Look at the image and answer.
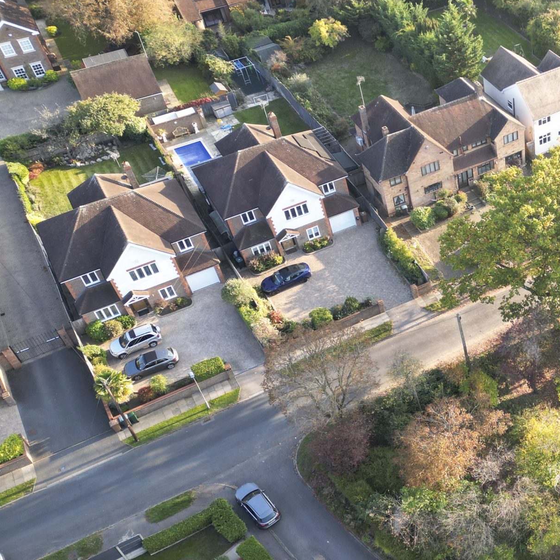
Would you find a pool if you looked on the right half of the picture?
No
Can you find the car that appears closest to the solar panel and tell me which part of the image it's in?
center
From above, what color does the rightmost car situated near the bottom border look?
blue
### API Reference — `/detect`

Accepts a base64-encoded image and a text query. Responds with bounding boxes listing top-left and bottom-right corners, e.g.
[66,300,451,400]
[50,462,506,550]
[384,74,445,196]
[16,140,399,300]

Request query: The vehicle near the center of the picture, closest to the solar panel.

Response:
[258,260,314,297]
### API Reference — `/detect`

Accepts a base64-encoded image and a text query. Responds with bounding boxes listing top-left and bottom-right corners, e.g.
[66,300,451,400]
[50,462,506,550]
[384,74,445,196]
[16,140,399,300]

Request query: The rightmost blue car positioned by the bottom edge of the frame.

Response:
[236,481,279,536]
